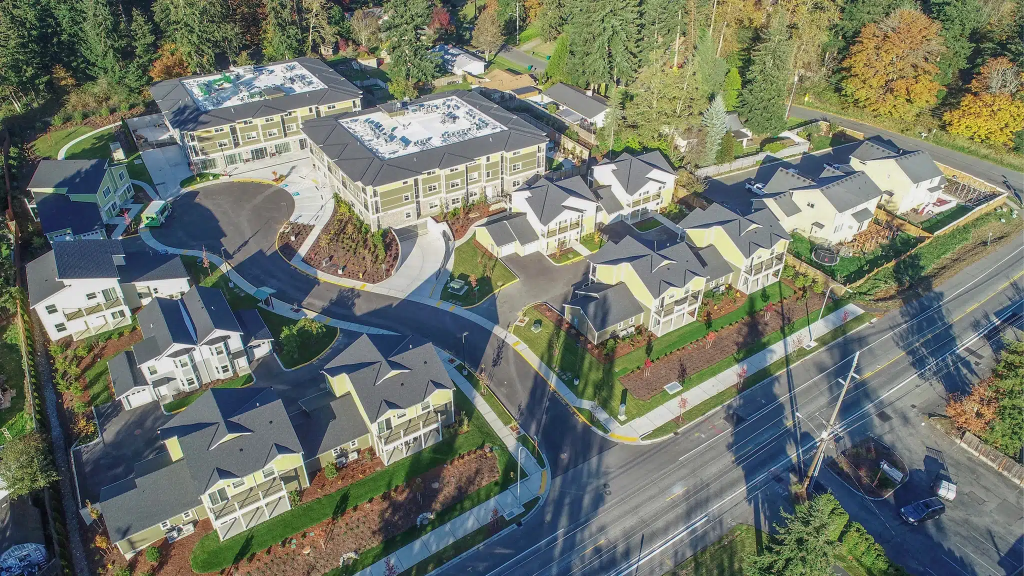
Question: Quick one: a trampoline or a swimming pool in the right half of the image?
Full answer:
It is a trampoline that can be seen in the right half of the image.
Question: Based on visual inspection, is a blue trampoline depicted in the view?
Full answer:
No, no blue trampoline is visible in the scene.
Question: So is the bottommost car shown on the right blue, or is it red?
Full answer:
The color of the bottommost car shown on the right is blue.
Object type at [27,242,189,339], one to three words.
house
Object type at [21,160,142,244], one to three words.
building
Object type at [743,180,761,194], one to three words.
vehicle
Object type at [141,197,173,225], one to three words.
vehicle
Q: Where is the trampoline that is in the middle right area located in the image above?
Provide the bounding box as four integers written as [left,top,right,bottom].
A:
[811,237,845,266]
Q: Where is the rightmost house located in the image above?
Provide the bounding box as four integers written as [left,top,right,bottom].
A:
[831,143,944,211]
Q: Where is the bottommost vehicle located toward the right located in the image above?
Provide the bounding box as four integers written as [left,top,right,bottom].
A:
[901,495,957,525]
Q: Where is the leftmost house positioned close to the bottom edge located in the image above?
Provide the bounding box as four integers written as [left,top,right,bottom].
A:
[95,384,311,558]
